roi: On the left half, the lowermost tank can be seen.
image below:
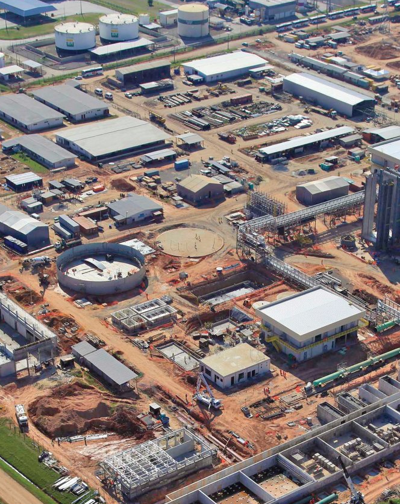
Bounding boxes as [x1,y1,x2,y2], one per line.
[55,243,146,295]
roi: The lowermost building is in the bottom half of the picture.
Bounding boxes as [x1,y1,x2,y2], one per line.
[94,427,215,501]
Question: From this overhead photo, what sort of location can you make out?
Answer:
industrial area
